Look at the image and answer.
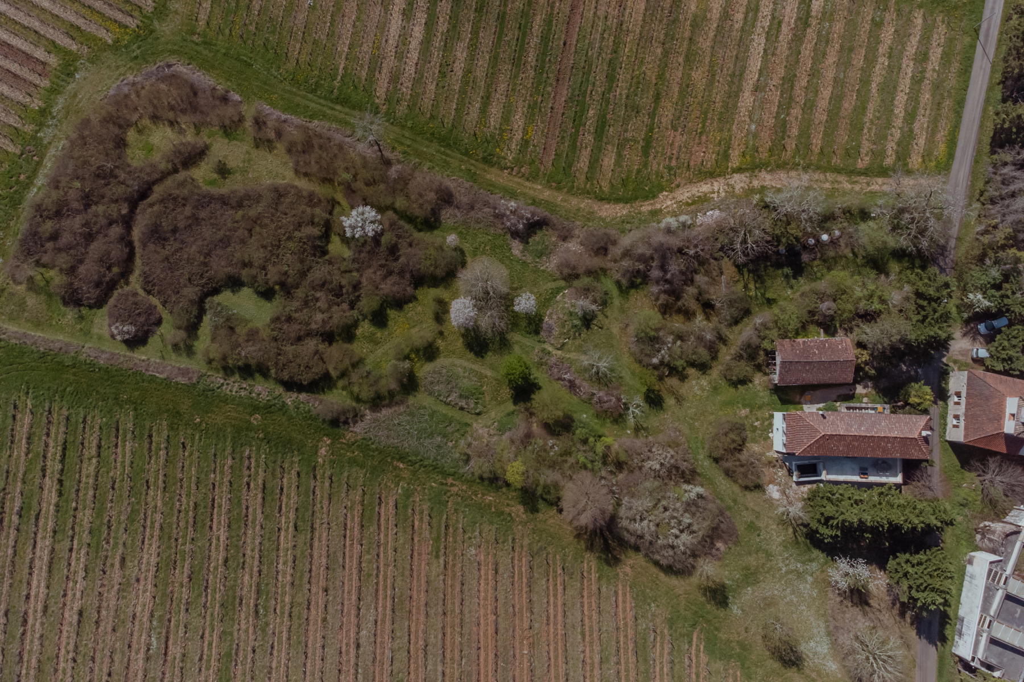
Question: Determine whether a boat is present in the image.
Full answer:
No, no boat is visible in the view.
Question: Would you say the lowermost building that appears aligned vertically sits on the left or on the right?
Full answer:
You can find the lowermost building that appears aligned vertically on the right side of the picture.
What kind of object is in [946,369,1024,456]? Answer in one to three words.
house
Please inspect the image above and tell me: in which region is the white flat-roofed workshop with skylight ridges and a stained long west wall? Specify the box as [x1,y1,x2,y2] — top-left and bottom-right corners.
[951,524,1024,682]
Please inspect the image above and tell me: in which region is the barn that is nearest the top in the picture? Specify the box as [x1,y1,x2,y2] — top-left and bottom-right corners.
[769,338,857,385]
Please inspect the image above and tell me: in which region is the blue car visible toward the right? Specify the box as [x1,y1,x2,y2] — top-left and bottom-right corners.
[979,316,1014,335]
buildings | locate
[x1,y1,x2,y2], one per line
[769,338,857,385]
[946,369,1024,456]
[951,524,1024,682]
[774,410,932,459]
